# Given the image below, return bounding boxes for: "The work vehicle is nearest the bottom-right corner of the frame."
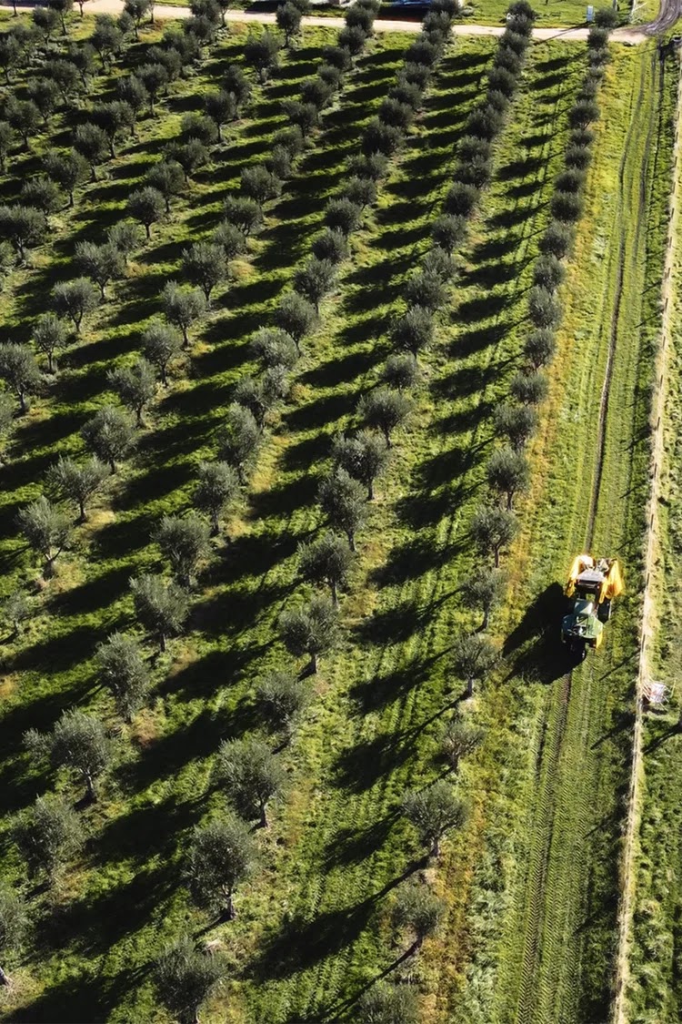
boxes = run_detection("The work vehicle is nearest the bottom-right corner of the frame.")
[559,553,624,664]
